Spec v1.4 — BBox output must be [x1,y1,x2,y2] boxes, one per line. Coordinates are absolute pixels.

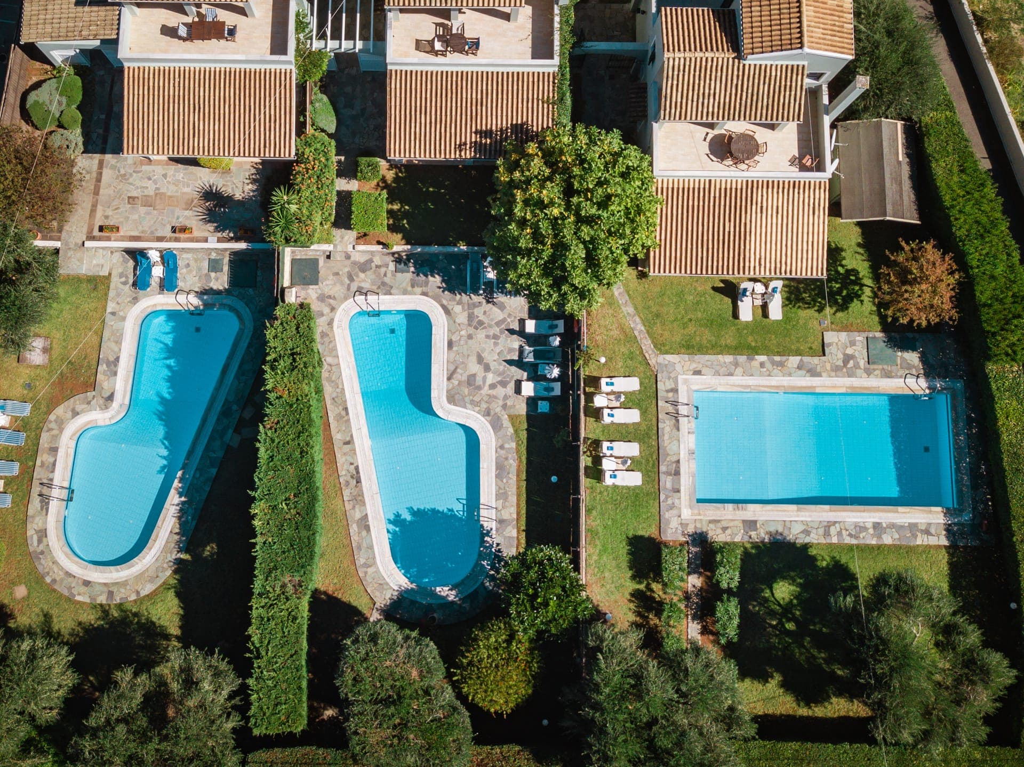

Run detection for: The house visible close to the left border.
[19,0,306,162]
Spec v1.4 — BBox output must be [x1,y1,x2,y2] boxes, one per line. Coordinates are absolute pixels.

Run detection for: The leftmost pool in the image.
[47,293,254,581]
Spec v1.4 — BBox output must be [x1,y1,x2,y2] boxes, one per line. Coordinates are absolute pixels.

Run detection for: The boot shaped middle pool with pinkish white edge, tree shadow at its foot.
[334,294,495,603]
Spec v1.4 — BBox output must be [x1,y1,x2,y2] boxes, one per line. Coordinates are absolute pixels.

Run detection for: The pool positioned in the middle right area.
[678,375,972,521]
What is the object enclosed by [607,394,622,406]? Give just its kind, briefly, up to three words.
umbrella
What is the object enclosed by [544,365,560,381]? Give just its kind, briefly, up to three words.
umbrella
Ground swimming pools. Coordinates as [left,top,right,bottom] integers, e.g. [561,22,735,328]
[334,294,495,603]
[678,375,972,521]
[47,293,254,581]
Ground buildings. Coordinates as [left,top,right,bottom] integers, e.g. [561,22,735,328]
[831,121,921,223]
[613,0,856,279]
[383,0,560,165]
[19,0,306,162]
